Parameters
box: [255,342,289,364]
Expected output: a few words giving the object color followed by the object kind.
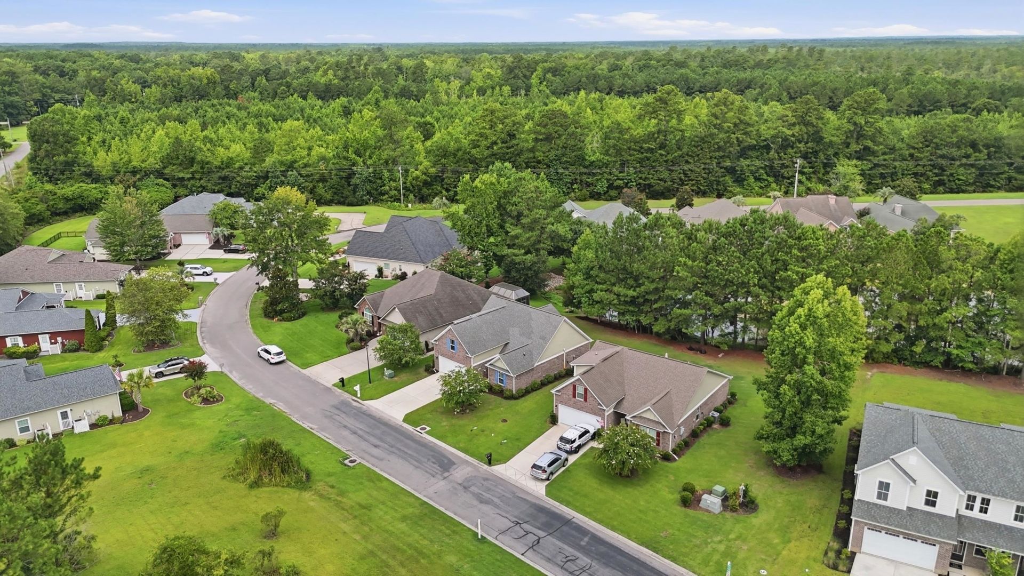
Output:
white car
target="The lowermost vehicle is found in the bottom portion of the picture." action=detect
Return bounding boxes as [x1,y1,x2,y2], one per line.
[525,447,571,480]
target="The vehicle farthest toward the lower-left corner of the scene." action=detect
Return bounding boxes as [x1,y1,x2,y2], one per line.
[145,351,189,377]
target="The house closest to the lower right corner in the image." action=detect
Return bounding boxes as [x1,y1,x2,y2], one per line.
[847,403,1024,576]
